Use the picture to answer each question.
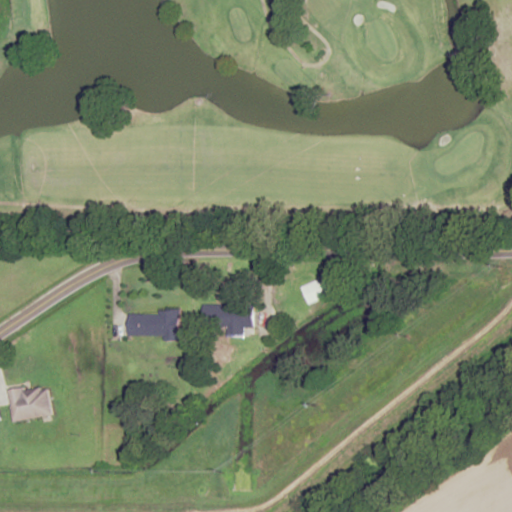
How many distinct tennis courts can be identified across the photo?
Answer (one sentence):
There are no tennis courts in the image.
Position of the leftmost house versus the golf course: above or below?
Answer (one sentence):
From this view, the leftmost house can be seen below the golf course.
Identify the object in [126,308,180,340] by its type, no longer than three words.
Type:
house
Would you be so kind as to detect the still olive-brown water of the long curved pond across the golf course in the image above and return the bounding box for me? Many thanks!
[0,0,482,149]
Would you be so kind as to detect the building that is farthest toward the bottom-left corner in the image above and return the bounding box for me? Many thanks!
[6,382,52,422]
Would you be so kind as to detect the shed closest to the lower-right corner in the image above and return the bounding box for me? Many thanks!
[301,280,322,306]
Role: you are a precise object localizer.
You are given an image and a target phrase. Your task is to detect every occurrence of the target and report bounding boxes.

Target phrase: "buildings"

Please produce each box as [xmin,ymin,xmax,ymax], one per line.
[126,308,180,340]
[202,304,256,338]
[301,280,322,306]
[6,382,52,422]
